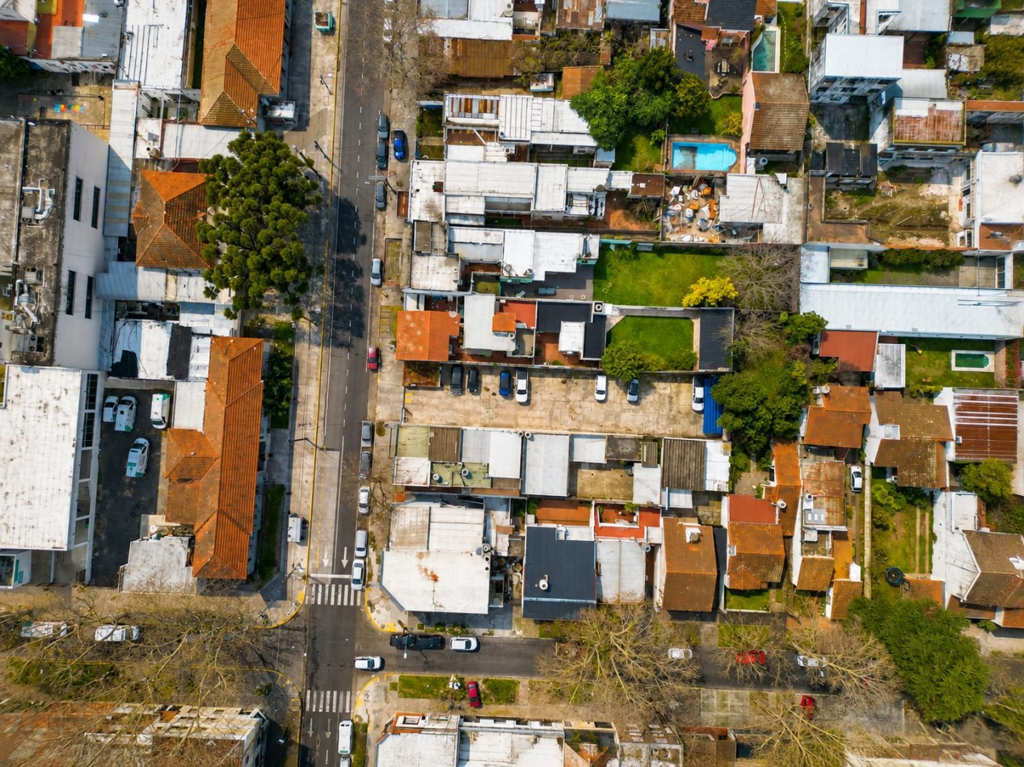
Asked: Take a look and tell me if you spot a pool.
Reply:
Yes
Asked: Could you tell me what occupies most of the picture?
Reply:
buildings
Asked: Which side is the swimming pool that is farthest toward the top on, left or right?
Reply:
right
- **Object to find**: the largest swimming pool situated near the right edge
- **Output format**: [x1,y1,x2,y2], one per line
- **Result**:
[954,349,996,372]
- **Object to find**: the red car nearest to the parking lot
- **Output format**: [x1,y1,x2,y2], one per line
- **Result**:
[366,346,379,371]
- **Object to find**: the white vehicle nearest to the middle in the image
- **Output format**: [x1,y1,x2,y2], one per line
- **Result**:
[517,370,531,403]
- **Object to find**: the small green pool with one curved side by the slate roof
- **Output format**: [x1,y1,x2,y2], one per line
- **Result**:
[750,23,782,73]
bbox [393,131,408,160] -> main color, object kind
blue car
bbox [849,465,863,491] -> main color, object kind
white car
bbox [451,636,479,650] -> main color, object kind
white car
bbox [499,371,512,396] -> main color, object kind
blue vehicle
